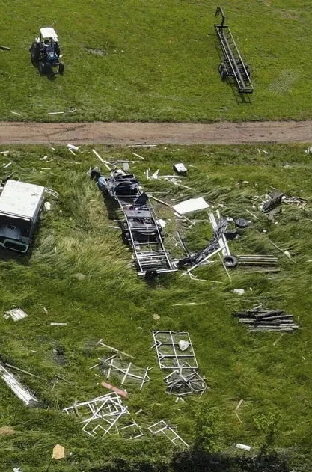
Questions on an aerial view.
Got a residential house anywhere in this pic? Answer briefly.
No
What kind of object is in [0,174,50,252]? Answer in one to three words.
van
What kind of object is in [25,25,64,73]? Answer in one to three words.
work vehicle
